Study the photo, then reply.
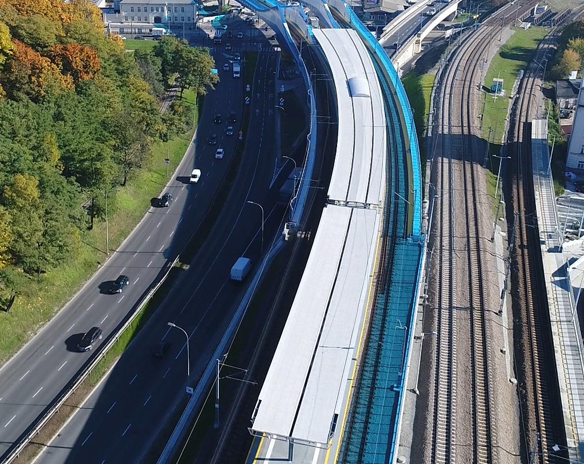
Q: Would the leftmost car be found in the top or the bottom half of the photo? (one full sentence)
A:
The leftmost car is in the bottom half of the image.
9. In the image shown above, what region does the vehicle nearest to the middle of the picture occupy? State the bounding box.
[228,259,248,282]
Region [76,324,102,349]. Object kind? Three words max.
car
